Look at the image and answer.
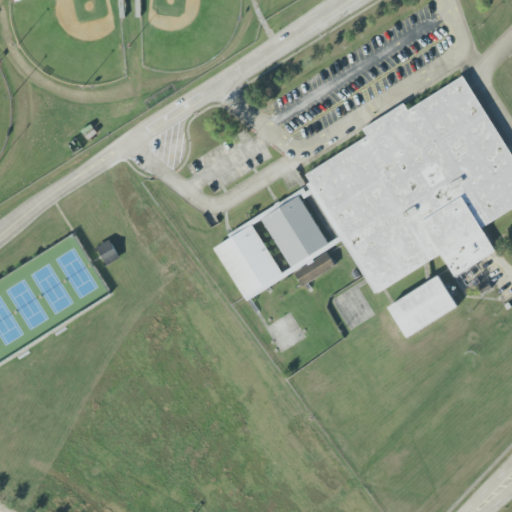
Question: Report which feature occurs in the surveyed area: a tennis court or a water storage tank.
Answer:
tennis court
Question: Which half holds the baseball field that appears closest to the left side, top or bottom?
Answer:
top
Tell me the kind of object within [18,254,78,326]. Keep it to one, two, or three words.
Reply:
tennis court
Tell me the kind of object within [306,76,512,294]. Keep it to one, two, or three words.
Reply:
building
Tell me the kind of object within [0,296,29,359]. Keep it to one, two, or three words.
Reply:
tennis court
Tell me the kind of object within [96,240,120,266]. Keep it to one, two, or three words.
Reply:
shed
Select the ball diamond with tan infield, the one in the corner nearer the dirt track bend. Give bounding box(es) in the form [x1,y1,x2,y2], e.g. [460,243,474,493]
[56,0,114,40]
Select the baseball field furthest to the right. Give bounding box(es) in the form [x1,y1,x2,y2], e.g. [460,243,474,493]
[148,0,200,30]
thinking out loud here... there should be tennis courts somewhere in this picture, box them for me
[43,236,109,310]
[0,270,54,341]
[18,254,78,326]
[0,296,29,359]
